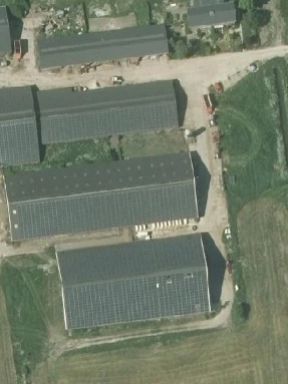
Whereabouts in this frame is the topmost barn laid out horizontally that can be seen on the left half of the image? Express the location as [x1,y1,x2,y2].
[36,24,169,71]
